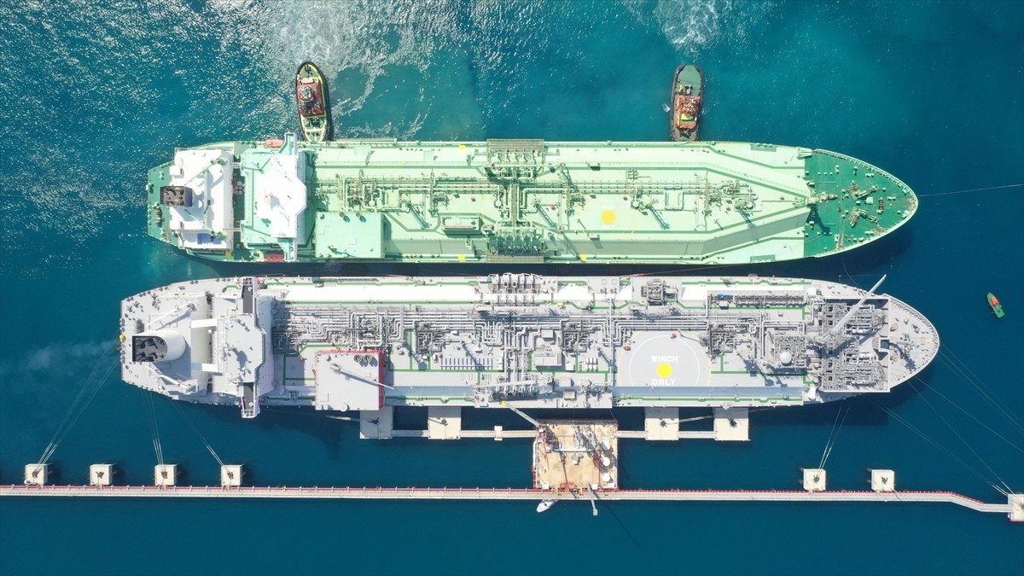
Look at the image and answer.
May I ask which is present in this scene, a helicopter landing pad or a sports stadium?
helicopter landing pad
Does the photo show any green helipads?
No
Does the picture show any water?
Yes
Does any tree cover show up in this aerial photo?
No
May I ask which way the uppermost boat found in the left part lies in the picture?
vertically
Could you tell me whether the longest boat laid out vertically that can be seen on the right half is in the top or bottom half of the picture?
top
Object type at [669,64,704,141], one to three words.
boat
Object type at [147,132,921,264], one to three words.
ship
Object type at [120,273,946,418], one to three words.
ship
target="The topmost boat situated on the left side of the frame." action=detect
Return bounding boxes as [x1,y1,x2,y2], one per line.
[296,62,332,140]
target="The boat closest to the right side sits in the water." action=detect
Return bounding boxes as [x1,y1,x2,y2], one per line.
[988,293,1005,318]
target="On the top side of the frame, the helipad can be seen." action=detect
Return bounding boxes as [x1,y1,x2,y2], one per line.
[579,192,637,240]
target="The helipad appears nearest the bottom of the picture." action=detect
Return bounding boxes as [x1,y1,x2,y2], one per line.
[619,330,710,386]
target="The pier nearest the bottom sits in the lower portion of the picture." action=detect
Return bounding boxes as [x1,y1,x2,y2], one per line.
[0,482,1007,513]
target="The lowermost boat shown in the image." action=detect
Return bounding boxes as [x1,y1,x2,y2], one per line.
[537,500,558,512]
